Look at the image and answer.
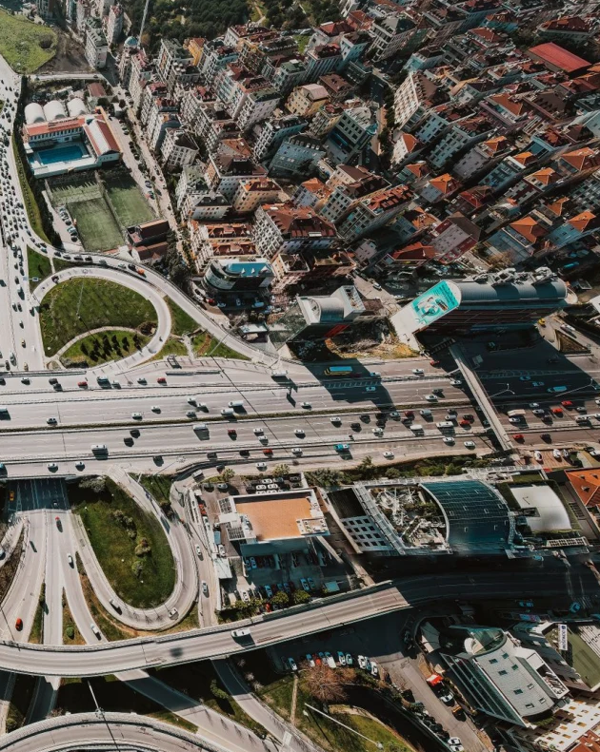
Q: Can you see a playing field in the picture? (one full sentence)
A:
Yes, the picture does show a playing field.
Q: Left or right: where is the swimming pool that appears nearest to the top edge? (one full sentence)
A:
You can find the swimming pool that appears nearest to the top edge on the left side of the picture.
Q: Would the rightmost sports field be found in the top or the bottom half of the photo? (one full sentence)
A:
The rightmost sports field is in the top half of the image.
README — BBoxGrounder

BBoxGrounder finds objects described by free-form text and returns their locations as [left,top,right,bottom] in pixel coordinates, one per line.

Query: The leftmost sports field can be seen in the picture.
[54,176,119,250]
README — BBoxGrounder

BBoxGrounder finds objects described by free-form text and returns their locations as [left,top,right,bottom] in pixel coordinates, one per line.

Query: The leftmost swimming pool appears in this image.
[36,144,87,164]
